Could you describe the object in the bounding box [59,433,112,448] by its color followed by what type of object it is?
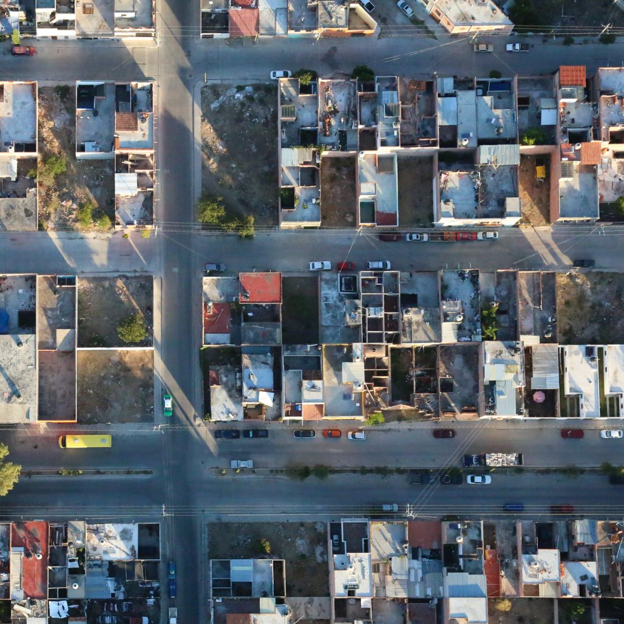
yellow vehicle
